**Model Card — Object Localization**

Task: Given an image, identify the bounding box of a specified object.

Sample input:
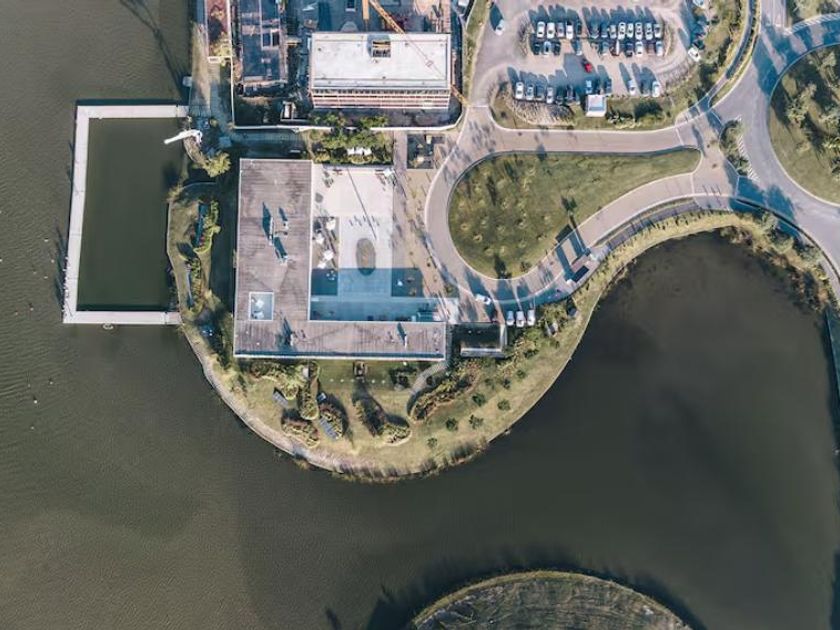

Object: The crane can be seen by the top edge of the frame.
[359,0,470,105]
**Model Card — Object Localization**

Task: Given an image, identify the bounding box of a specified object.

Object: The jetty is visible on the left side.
[64,104,189,323]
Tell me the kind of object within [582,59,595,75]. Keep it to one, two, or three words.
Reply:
vehicle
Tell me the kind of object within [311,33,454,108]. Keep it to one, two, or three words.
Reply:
building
